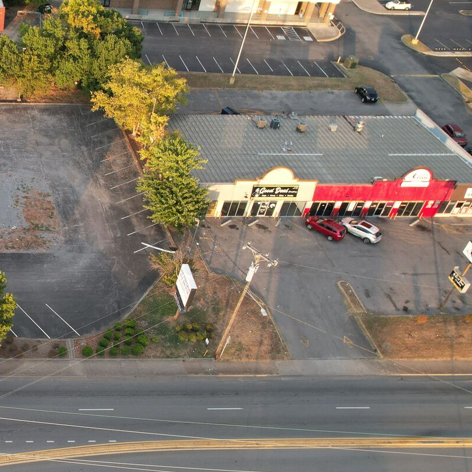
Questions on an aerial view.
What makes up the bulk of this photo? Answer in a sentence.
Most of the picture is covered by paved ground.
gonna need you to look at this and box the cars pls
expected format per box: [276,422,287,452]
[353,82,380,100]
[344,215,387,242]
[308,214,352,239]
[442,121,469,142]
[386,1,412,10]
